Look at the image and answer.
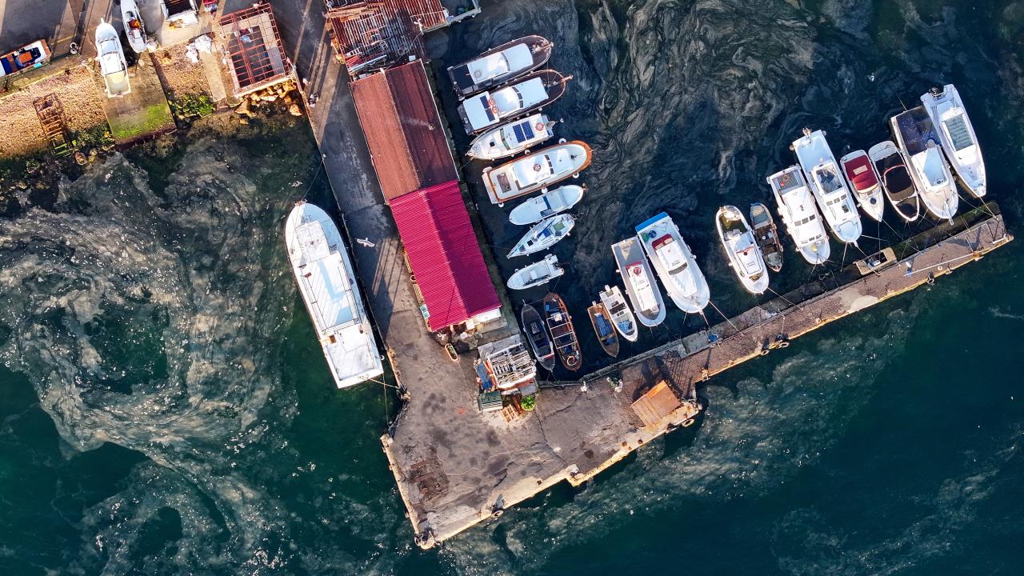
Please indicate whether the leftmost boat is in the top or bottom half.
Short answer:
top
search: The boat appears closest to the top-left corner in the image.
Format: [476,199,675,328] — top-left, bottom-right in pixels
[0,39,53,78]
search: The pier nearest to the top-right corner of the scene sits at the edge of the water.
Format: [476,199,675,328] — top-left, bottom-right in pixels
[292,0,1009,549]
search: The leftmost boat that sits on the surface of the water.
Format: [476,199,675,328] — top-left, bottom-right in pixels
[286,200,385,389]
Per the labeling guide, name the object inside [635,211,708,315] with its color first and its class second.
white boat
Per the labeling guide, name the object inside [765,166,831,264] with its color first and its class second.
white boat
